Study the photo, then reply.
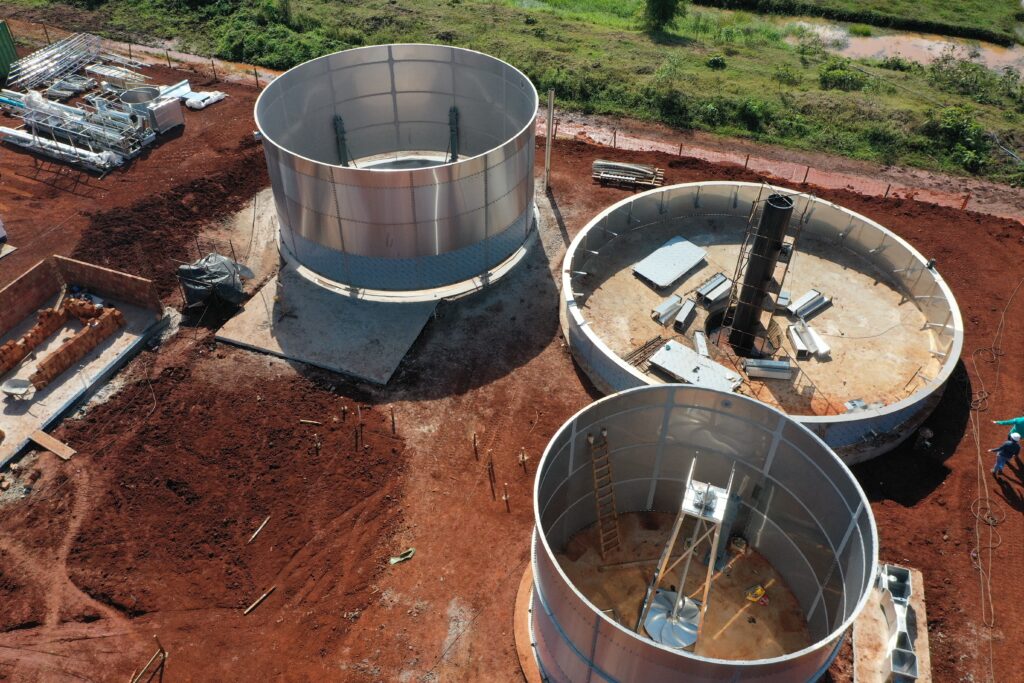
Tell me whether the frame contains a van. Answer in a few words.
No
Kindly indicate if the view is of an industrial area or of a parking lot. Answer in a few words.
industrial area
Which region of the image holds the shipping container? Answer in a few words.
top left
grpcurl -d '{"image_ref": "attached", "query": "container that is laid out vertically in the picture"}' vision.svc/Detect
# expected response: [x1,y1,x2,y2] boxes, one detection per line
[0,19,25,77]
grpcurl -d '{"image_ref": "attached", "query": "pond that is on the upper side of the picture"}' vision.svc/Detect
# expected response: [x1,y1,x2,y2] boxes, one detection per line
[755,18,1024,81]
